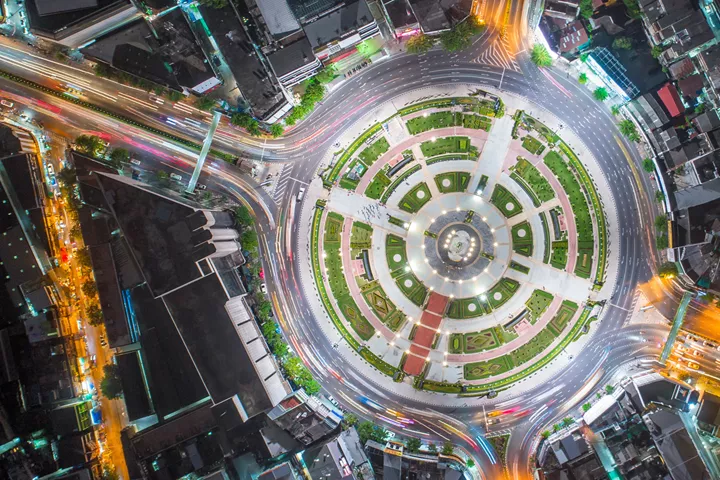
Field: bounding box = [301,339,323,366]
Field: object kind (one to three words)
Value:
bus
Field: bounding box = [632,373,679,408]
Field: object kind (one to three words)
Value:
building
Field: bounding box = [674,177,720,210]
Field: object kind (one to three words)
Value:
building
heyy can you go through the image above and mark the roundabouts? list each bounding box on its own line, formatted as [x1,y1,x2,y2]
[297,84,621,407]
